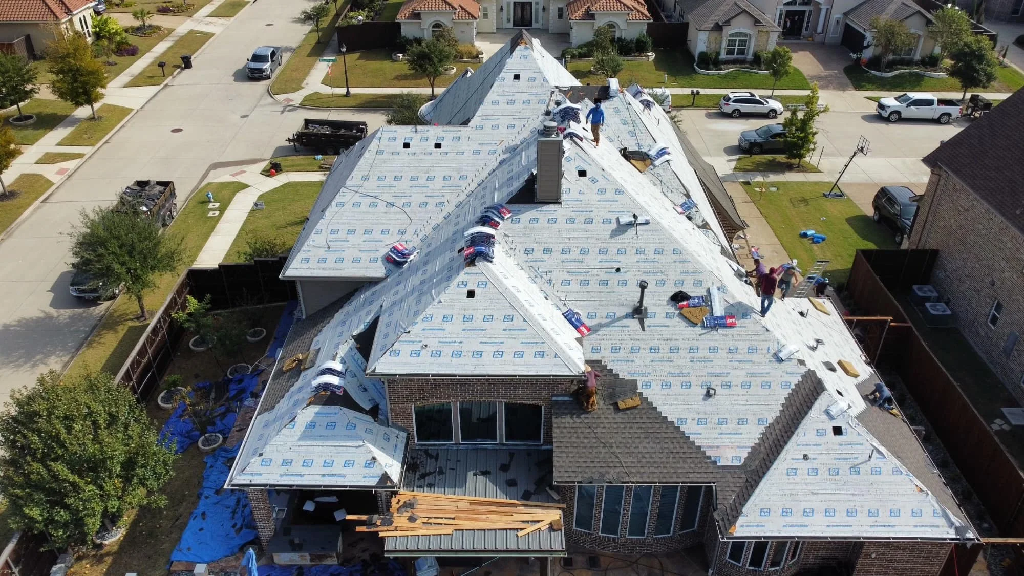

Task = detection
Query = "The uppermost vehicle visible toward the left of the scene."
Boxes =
[245,39,289,75]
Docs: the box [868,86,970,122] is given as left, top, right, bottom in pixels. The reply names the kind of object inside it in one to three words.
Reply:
truck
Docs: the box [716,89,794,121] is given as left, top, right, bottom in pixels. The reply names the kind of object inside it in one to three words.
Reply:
car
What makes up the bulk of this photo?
buildings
